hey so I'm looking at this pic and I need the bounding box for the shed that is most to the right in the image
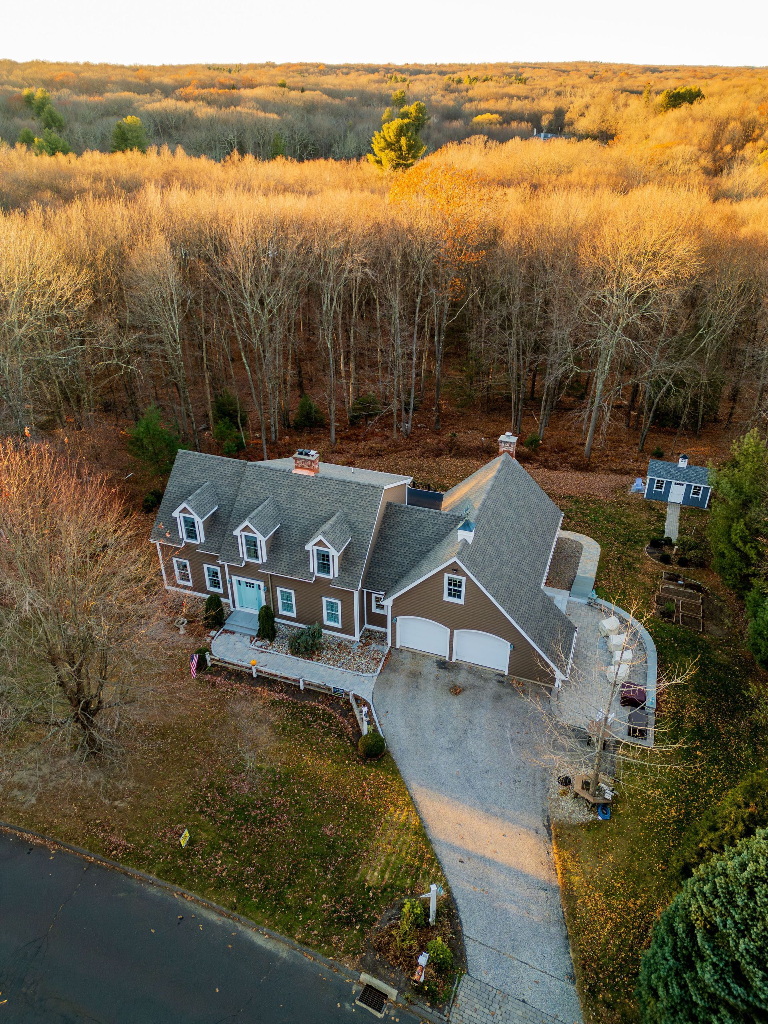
[645,458,717,507]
